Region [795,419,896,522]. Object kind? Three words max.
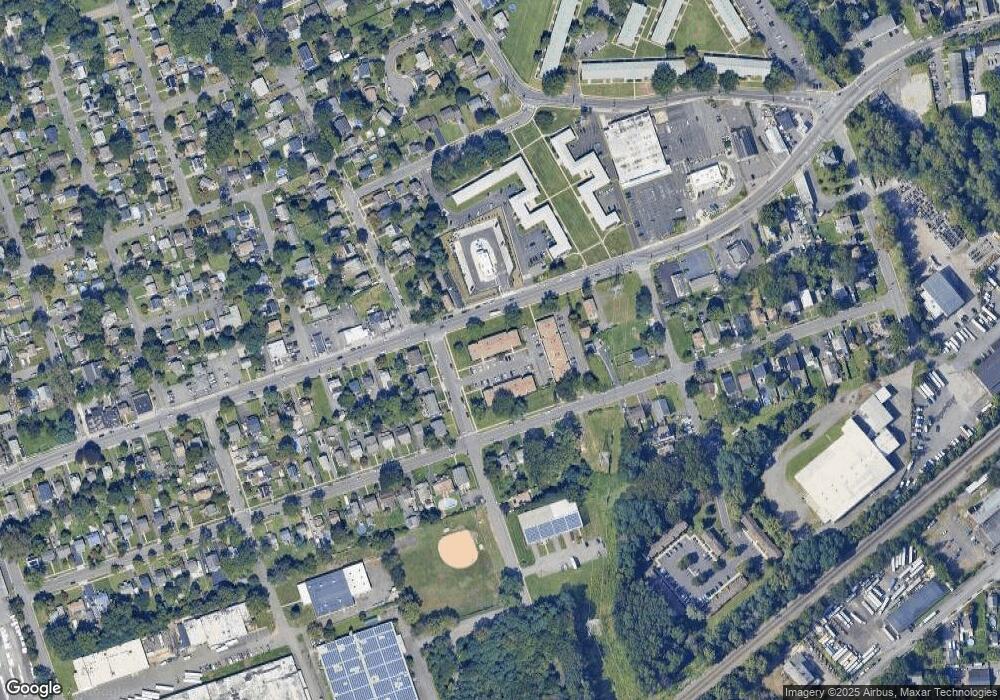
building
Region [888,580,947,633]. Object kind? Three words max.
shed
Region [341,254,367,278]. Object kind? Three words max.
house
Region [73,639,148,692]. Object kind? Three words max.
building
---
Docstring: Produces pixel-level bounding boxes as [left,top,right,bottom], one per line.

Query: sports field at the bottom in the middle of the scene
[438,528,482,570]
